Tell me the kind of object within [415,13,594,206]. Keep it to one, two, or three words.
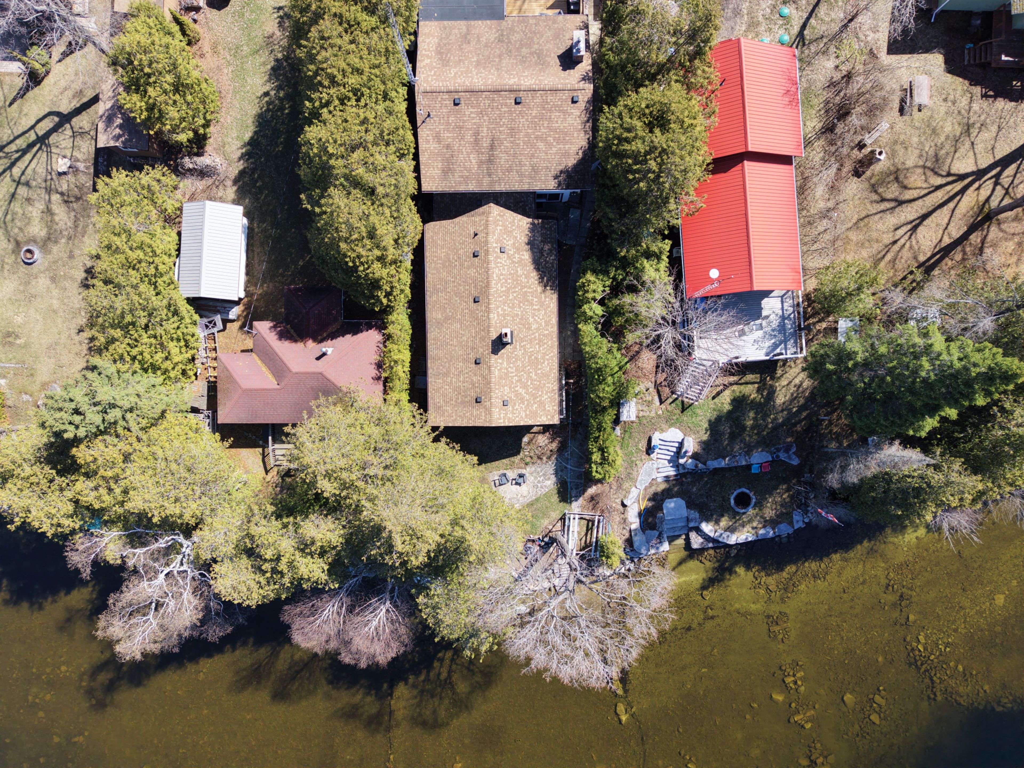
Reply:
house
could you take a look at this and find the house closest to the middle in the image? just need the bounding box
[425,193,560,426]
